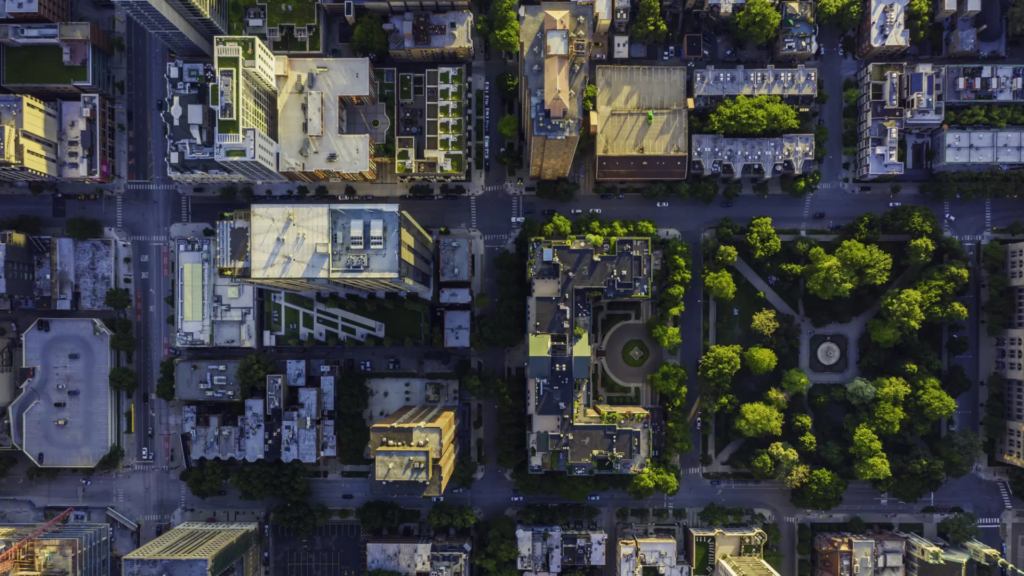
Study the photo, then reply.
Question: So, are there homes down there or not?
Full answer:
Yes, a home is visible in the scene.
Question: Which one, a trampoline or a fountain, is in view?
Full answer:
It is a fountain that can be seen here.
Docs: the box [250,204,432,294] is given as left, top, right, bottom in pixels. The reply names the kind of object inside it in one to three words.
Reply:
building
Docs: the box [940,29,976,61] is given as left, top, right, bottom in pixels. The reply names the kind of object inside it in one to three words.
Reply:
house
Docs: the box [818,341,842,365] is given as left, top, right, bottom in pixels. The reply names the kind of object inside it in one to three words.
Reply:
fountain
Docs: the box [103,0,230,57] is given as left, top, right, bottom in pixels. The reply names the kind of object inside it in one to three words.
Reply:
building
